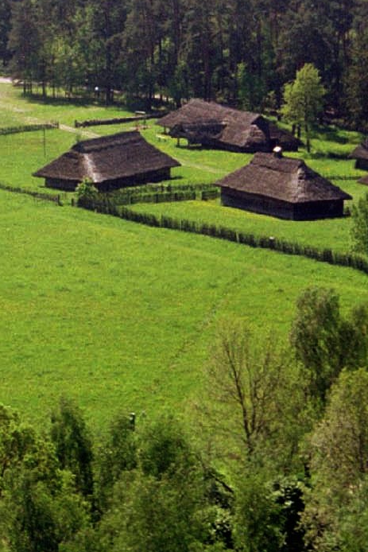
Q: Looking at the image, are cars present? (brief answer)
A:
No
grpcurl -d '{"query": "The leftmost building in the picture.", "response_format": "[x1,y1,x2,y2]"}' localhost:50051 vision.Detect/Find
[29,134,188,193]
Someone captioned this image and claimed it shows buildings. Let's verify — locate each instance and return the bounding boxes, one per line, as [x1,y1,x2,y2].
[317,129,368,170]
[161,105,310,153]
[211,147,354,221]
[29,134,188,193]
